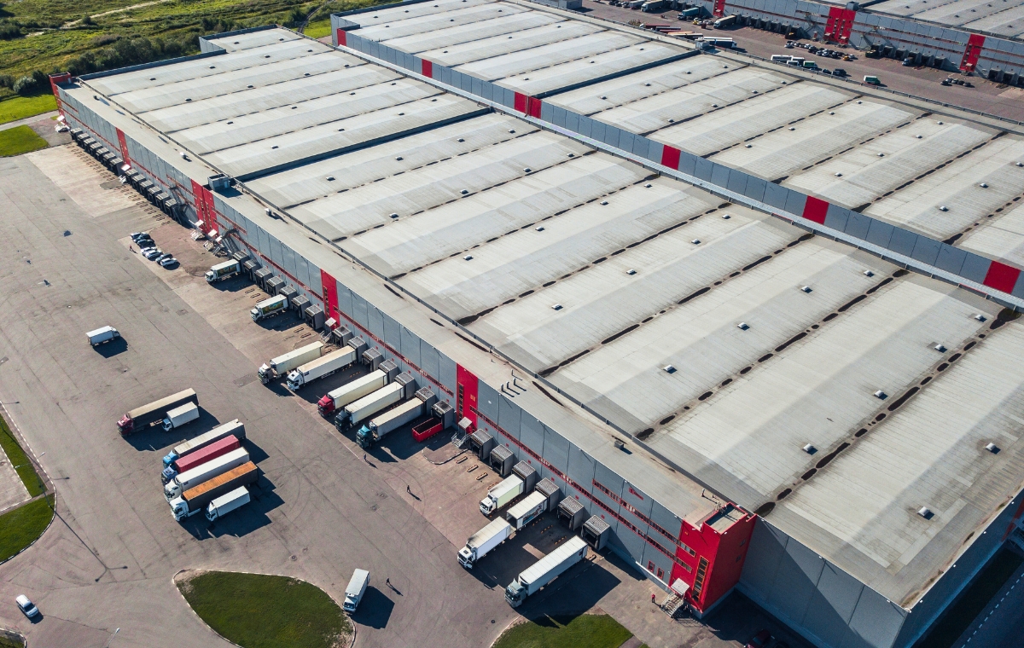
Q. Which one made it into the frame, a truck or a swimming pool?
truck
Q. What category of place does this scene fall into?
industrial area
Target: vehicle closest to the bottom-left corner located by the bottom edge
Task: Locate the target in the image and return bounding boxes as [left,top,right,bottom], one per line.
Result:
[14,590,33,618]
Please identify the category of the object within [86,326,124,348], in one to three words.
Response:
truck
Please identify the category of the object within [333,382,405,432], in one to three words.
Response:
truck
